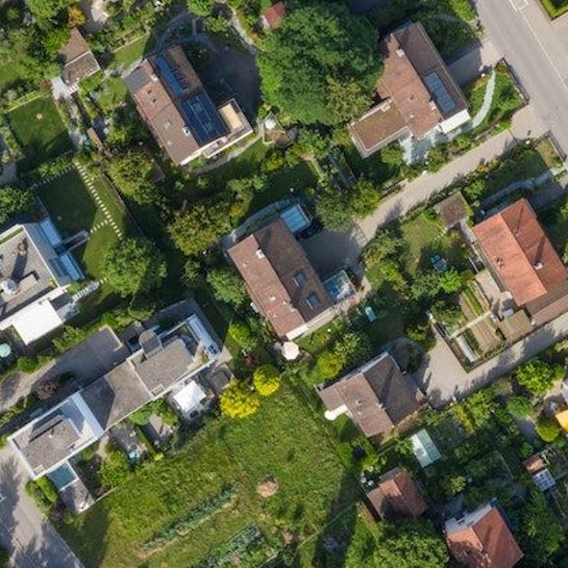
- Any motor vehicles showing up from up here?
Yes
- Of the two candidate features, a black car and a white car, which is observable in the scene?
black car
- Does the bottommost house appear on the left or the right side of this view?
right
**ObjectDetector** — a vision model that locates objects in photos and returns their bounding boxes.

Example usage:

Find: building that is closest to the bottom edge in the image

[446,503,529,568]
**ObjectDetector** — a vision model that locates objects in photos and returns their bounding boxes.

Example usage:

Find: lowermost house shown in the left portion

[7,314,237,479]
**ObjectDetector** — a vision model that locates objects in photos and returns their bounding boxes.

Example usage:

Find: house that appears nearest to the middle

[227,204,356,340]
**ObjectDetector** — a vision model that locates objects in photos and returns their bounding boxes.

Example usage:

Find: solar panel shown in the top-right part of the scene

[427,72,456,110]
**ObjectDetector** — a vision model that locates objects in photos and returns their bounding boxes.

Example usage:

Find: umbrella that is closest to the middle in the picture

[281,341,299,360]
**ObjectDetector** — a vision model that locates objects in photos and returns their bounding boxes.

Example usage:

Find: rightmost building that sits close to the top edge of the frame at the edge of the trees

[347,23,471,160]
